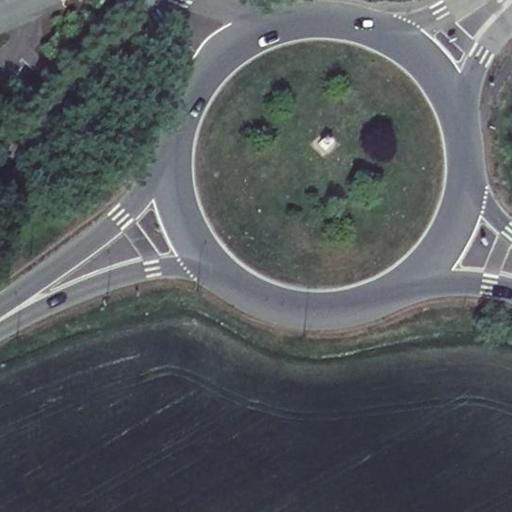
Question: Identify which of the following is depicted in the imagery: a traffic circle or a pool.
traffic circle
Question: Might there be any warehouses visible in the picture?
No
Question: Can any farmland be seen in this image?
Yes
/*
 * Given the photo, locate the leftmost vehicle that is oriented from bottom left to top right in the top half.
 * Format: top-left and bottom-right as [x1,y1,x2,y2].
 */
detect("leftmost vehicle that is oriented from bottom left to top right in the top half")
[190,96,206,116]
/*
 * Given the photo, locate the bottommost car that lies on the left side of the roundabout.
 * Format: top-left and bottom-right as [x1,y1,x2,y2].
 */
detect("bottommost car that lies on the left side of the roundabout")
[46,292,68,306]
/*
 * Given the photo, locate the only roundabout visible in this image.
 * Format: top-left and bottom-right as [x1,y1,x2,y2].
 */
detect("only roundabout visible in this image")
[144,2,487,328]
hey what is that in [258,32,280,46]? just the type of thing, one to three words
car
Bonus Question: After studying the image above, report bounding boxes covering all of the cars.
[354,18,374,28]
[492,286,512,298]
[46,292,68,306]
[190,96,206,116]
[258,32,280,46]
